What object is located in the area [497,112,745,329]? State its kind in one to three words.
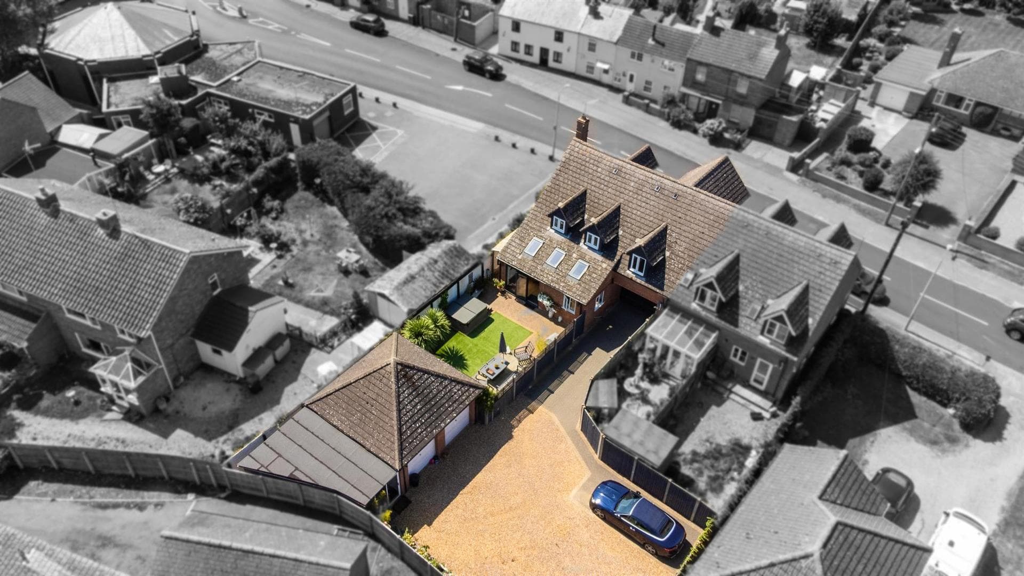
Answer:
house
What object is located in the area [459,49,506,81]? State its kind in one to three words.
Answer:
car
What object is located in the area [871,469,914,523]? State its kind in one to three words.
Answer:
car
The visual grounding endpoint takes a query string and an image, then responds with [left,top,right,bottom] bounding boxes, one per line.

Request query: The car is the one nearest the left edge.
[350,15,389,39]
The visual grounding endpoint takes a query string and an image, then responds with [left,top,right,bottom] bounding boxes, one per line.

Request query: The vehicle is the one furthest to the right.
[995,310,1024,340]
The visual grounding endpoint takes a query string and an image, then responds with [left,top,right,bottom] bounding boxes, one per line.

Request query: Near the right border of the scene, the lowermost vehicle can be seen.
[922,513,999,576]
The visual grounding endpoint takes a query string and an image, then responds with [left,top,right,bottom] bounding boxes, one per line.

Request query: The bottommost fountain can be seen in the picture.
[626,373,647,395]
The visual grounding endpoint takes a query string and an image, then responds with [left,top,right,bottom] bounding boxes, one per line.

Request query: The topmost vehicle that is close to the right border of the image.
[921,117,977,149]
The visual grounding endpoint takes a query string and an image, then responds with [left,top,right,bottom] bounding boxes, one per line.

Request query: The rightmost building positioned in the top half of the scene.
[872,27,1024,141]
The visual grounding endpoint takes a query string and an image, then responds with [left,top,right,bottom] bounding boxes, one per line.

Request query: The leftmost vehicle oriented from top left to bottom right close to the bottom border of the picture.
[587,480,689,558]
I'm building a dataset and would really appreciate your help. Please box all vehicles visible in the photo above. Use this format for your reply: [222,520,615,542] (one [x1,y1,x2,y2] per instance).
[587,480,689,558]
[350,15,389,39]
[847,265,890,303]
[871,469,914,523]
[459,49,506,81]
[921,117,977,149]
[922,513,999,576]
[995,310,1024,340]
